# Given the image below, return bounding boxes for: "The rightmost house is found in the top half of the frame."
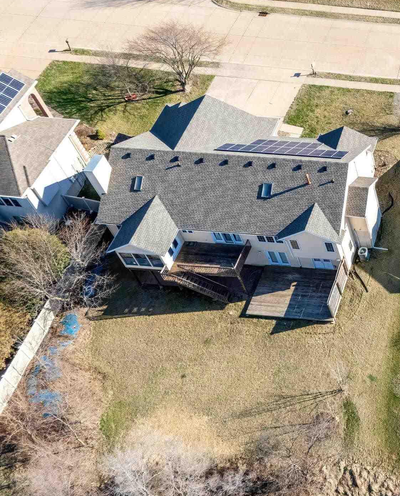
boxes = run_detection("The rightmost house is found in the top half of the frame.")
[72,91,378,294]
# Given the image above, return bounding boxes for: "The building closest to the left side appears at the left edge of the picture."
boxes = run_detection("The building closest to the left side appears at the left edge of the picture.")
[0,64,81,217]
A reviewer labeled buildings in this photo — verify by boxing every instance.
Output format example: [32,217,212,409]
[0,64,81,217]
[72,91,378,294]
